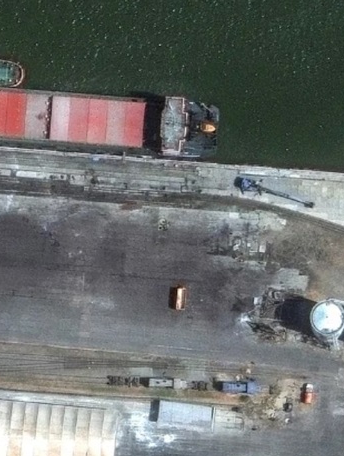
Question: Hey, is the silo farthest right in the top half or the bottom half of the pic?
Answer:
bottom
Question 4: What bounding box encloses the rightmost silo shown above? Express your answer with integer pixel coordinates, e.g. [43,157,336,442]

[311,299,344,347]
